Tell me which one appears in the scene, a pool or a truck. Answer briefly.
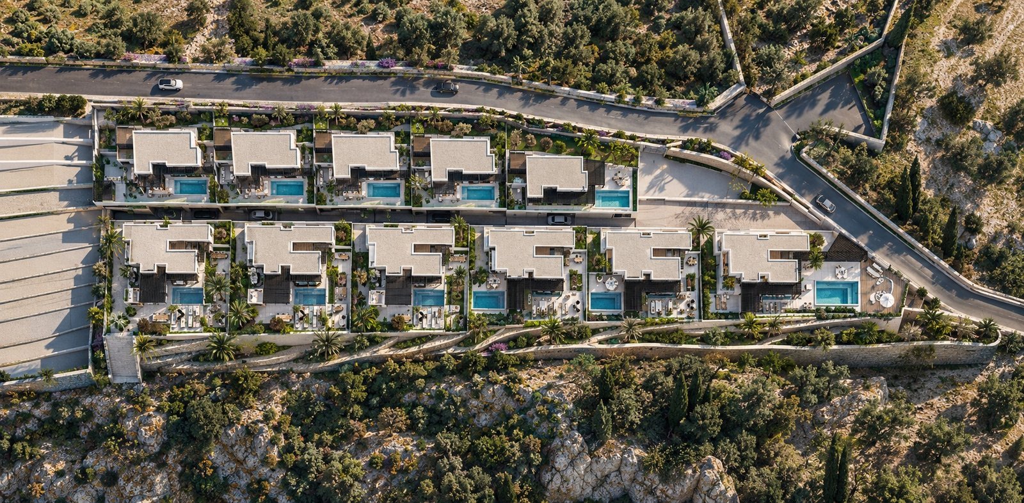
pool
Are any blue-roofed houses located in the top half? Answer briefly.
No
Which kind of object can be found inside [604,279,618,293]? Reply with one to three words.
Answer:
umbrella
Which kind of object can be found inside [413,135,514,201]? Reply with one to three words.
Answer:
house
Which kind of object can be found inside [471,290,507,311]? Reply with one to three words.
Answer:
swimming pool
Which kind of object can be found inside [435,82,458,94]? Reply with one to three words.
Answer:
vehicle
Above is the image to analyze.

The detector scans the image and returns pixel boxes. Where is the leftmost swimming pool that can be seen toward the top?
[169,177,207,195]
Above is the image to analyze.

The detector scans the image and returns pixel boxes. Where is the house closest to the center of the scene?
[486,227,578,315]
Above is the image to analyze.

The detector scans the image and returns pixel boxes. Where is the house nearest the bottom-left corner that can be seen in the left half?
[120,221,216,307]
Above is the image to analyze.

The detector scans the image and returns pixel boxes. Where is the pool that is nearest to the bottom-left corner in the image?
[168,286,204,305]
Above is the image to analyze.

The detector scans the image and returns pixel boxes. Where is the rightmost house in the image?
[718,232,813,317]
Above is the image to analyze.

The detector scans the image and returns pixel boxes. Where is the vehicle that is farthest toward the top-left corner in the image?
[158,78,182,91]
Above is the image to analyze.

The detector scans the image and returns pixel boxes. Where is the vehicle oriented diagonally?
[814,195,837,213]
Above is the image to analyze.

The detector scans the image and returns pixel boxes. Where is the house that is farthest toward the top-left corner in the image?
[115,126,215,193]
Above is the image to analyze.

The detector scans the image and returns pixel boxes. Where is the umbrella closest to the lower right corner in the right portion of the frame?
[880,294,894,307]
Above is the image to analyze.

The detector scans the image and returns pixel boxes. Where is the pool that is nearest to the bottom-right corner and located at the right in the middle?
[812,280,863,306]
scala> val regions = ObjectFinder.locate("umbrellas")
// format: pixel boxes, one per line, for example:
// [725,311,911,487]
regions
[880,294,894,307]
[604,279,618,293]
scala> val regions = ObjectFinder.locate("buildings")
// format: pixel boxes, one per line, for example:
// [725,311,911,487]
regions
[315,131,415,197]
[243,223,337,309]
[413,135,514,201]
[603,230,696,316]
[115,126,215,193]
[120,221,216,307]
[365,224,458,311]
[214,129,314,195]
[718,232,813,317]
[508,151,605,209]
[486,227,578,315]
